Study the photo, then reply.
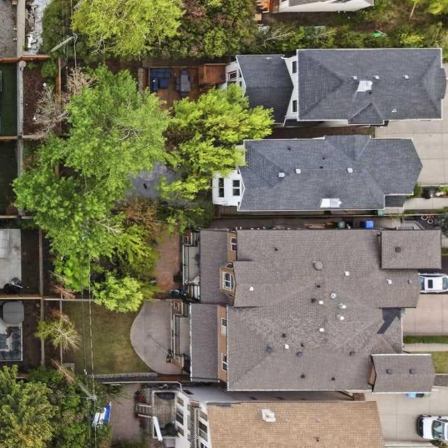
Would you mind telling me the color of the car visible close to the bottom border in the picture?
white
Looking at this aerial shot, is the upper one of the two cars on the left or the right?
right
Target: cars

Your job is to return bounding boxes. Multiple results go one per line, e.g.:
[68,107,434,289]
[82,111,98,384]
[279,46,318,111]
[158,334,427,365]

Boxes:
[415,416,448,442]
[421,271,448,295]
